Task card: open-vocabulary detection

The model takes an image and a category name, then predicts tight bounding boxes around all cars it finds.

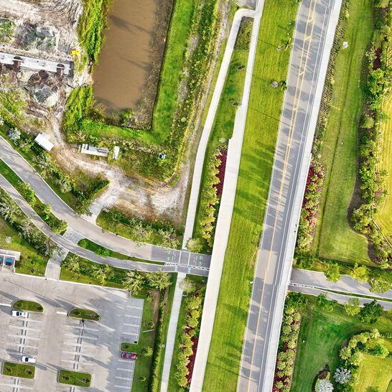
[22,355,37,363]
[13,310,28,317]
[122,351,137,359]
